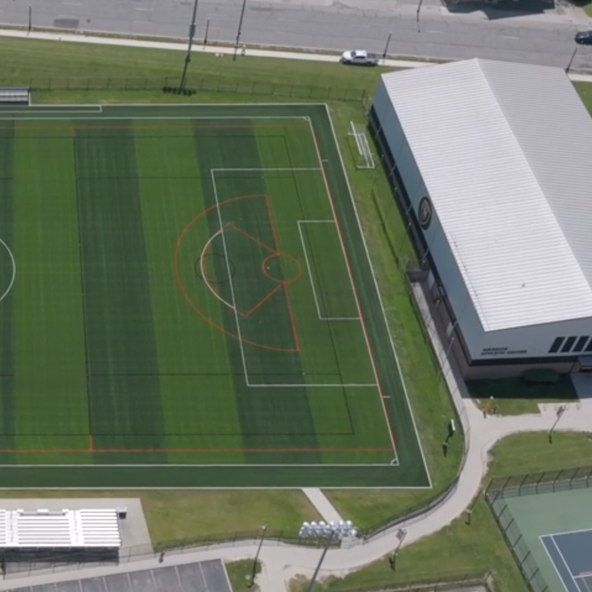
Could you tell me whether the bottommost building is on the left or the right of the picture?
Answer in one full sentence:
The bottommost building appears in the right half of the scene.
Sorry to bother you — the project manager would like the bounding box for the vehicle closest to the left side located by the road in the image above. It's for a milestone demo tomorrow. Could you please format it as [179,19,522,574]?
[341,47,379,65]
